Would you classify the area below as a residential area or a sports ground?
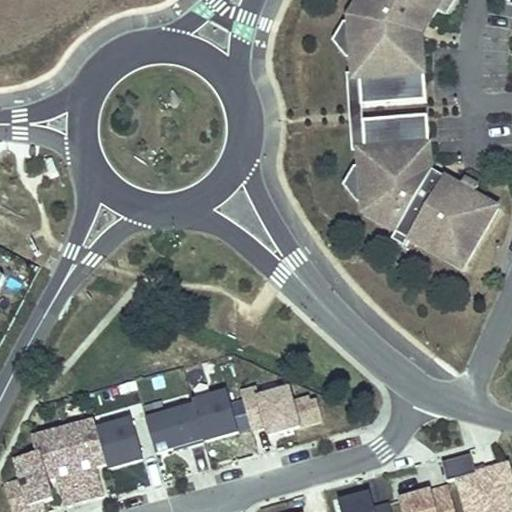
residential area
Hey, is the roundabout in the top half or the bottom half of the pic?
top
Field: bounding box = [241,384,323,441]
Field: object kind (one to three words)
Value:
house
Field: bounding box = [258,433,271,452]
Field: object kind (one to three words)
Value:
vehicle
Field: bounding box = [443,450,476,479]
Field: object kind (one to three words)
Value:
building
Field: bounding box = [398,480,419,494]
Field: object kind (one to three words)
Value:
vehicle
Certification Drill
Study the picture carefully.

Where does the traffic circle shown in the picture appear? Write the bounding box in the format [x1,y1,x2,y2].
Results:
[30,0,281,259]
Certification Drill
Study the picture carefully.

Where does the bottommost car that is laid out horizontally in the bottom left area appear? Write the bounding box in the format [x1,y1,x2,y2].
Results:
[122,496,144,508]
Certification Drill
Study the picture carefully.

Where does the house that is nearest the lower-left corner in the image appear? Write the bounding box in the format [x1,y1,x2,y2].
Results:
[3,450,52,512]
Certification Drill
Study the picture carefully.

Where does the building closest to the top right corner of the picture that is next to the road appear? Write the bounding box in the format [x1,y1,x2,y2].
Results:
[332,0,501,272]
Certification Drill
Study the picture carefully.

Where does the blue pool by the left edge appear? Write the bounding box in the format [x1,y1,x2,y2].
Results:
[4,277,22,292]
